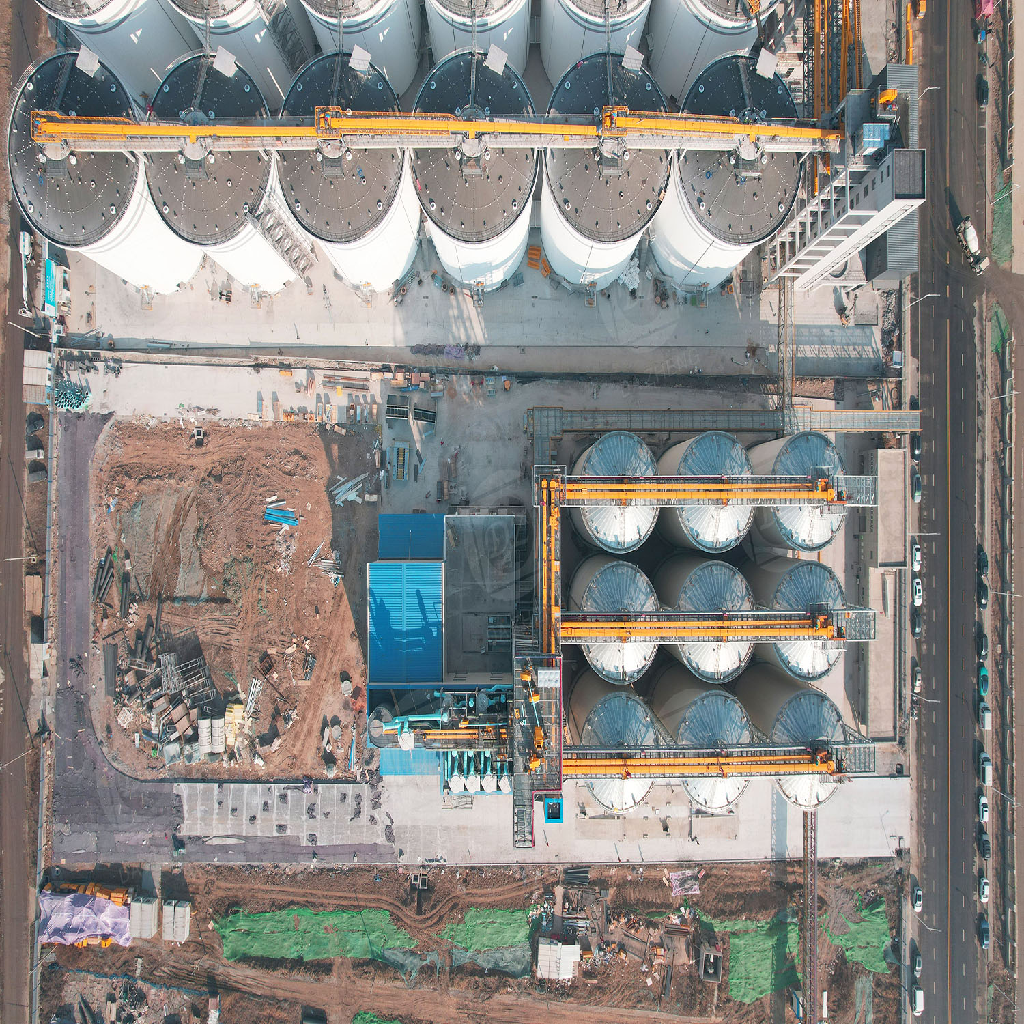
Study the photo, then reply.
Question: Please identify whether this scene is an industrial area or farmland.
industrial area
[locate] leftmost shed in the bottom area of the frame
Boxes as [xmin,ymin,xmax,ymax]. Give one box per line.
[30,641,51,679]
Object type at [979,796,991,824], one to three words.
vehicle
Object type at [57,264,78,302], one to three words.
building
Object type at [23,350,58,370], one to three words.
building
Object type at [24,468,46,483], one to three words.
vehicle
